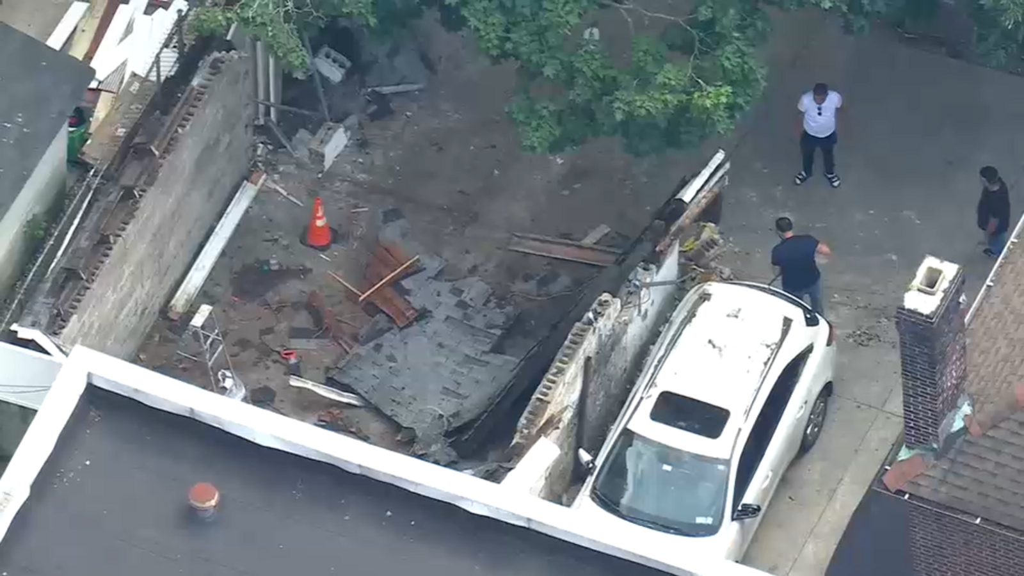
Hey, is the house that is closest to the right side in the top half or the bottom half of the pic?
bottom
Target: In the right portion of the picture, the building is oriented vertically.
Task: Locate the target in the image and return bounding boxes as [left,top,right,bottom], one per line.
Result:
[862,198,1024,576]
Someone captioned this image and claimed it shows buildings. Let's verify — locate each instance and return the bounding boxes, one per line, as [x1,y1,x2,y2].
[862,198,1024,576]
[0,42,98,326]
[0,347,754,576]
